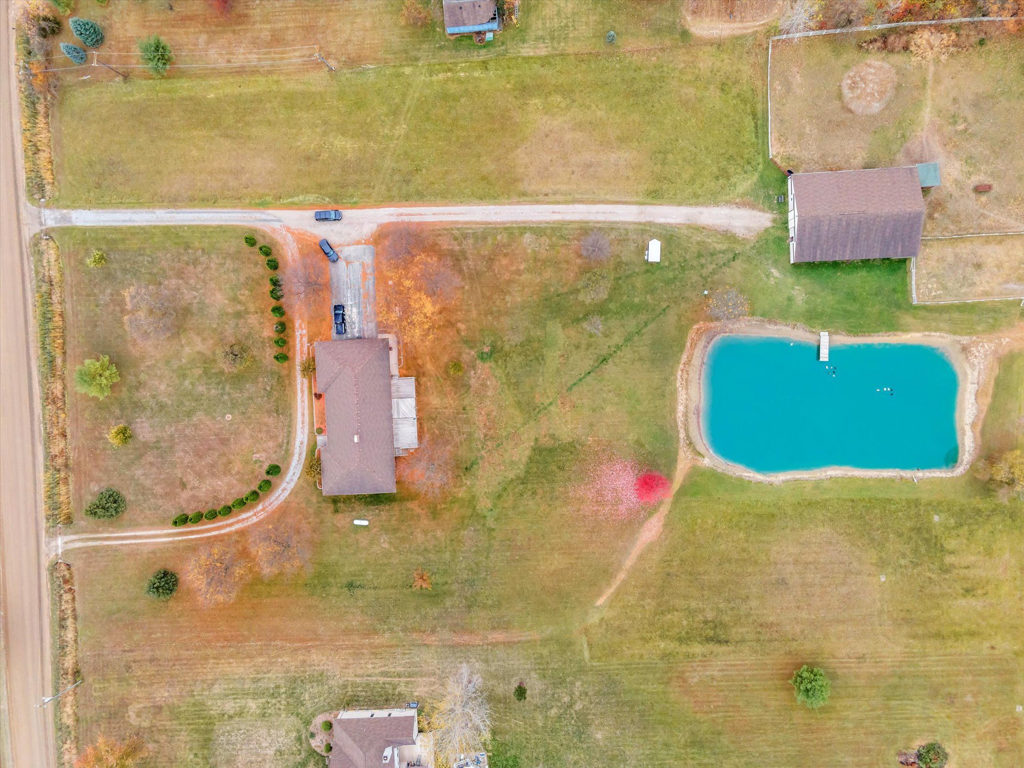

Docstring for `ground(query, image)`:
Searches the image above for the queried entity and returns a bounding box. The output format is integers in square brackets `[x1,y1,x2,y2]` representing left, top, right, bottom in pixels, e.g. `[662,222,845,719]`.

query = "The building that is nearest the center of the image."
[315,338,396,495]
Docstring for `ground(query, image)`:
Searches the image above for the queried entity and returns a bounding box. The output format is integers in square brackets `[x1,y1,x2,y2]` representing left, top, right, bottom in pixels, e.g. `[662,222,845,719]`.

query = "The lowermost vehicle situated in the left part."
[332,304,346,335]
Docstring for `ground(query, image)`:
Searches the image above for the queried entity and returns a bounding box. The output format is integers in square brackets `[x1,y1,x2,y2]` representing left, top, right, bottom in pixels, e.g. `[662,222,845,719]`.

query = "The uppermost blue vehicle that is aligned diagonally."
[317,237,338,262]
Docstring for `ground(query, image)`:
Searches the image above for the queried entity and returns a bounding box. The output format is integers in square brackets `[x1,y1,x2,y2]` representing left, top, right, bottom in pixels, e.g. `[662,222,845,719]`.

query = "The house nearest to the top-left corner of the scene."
[443,0,499,37]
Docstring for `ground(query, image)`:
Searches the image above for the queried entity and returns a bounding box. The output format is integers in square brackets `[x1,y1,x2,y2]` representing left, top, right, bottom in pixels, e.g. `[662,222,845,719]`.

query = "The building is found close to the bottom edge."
[326,711,417,768]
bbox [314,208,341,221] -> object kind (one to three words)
vehicle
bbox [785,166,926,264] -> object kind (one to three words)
barn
